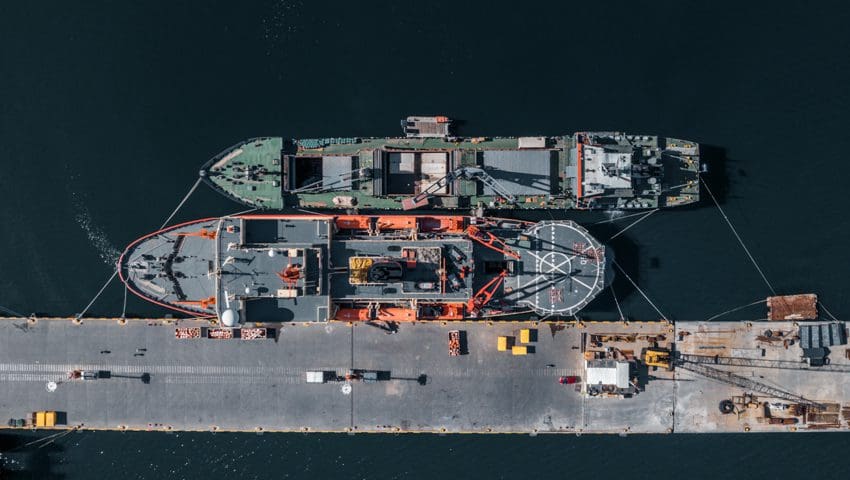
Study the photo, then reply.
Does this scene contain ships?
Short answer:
Yes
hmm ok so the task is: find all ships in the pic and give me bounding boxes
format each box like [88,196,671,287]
[118,213,613,326]
[200,132,707,210]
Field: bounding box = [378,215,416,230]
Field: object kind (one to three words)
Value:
boat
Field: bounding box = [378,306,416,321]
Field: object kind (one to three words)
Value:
boat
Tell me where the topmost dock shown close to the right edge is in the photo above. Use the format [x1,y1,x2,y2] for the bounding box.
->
[765,294,817,321]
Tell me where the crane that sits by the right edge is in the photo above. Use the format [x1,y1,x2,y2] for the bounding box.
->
[639,345,830,409]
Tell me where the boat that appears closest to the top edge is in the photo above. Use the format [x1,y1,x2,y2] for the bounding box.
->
[401,115,450,138]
